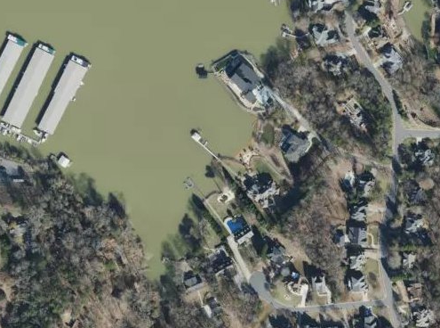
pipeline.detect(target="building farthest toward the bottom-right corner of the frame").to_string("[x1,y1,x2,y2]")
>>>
[412,307,437,328]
